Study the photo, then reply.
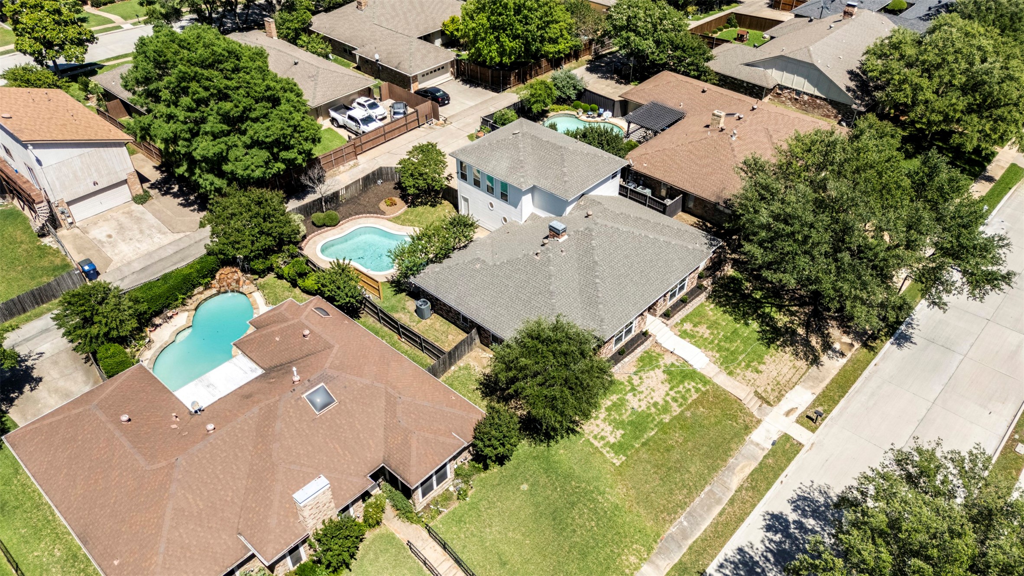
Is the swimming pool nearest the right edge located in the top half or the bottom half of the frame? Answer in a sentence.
Seen from above, the swimming pool nearest the right edge lies in the top half of the view.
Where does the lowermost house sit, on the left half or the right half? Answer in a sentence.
It is on the left.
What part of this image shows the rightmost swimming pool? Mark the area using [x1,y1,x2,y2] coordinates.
[539,110,628,140]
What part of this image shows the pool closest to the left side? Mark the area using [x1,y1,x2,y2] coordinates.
[145,285,263,393]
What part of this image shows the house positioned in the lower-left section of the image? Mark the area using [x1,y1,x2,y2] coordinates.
[0,294,481,576]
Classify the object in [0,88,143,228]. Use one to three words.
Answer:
house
